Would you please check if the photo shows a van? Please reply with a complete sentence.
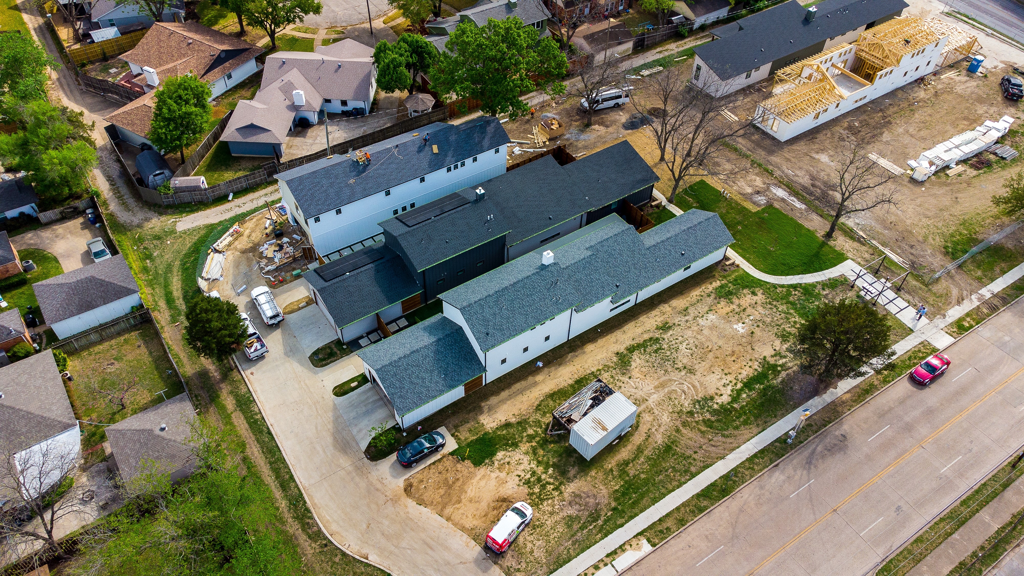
Yes, a van is visible in the scene.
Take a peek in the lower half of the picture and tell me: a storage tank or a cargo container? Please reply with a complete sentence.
You can see a cargo container in the lower half of the picture.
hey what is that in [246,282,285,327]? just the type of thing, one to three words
truck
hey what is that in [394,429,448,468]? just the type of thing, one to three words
car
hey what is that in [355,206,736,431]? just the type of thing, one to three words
house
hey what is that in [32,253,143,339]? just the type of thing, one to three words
building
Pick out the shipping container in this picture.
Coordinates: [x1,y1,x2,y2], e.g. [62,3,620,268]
[570,392,637,460]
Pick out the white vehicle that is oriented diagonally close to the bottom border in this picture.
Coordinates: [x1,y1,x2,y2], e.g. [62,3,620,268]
[485,502,533,555]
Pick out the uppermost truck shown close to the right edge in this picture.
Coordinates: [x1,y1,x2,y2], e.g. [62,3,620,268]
[1000,73,1024,100]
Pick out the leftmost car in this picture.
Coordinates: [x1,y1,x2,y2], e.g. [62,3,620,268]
[86,237,112,263]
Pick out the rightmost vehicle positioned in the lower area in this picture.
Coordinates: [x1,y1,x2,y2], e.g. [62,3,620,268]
[910,352,954,386]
